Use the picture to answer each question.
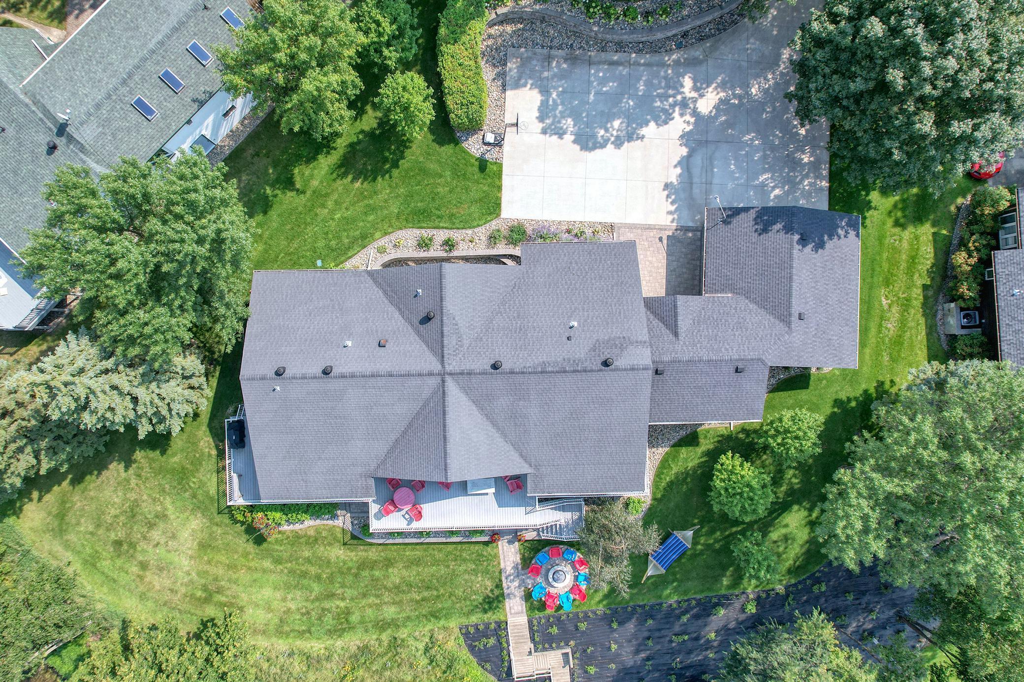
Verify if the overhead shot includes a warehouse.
No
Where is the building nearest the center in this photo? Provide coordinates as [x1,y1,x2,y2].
[240,194,863,505]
